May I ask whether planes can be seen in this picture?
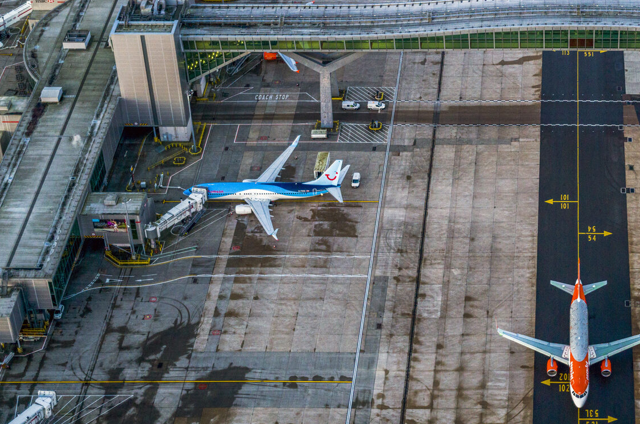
Yes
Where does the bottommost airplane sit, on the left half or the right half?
right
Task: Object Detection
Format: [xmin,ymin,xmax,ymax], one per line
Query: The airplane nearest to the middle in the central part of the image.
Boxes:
[184,135,345,239]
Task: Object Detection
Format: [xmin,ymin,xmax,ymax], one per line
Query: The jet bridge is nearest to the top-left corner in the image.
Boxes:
[0,0,39,41]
